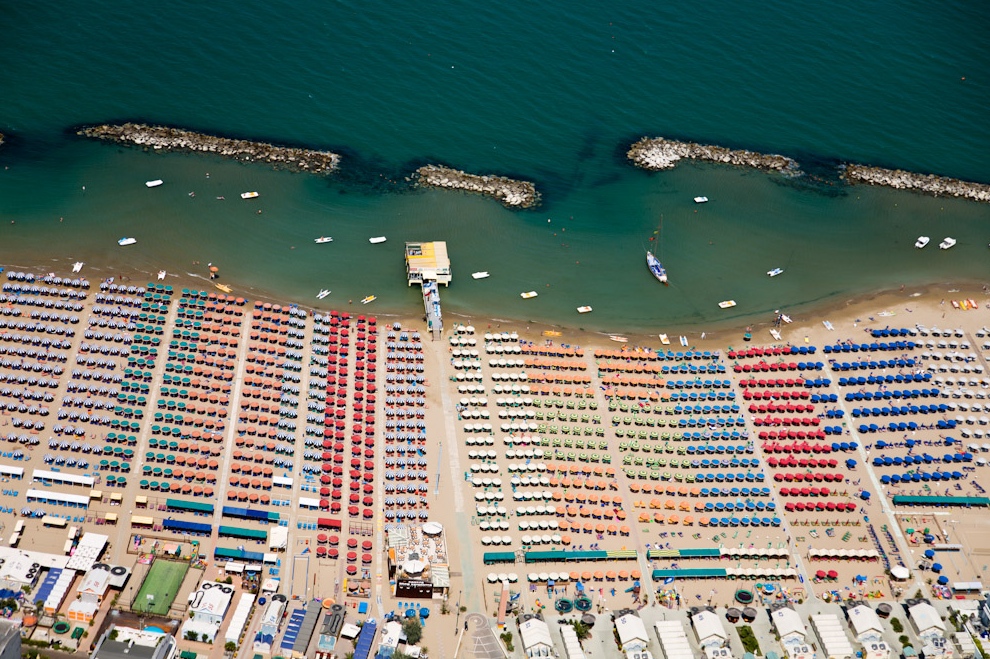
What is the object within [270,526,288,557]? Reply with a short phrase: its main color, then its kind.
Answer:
white tent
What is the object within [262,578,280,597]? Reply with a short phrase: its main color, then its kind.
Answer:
white gazebo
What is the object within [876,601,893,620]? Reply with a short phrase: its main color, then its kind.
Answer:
gray umbrella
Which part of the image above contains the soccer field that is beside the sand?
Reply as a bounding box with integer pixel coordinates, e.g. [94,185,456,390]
[131,548,189,615]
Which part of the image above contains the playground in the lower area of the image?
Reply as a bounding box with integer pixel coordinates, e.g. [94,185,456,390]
[755,581,788,604]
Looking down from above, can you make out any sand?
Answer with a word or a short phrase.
Yes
